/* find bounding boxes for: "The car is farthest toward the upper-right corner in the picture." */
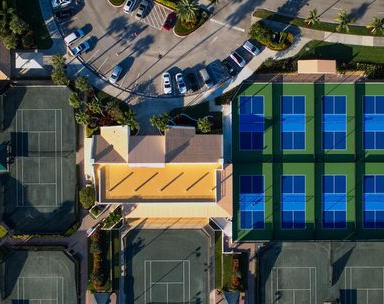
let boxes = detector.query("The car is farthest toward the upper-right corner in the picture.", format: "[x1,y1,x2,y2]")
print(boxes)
[242,39,260,58]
